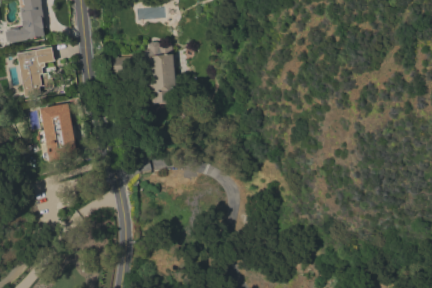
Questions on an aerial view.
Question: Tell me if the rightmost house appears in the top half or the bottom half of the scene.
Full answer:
You can find the rightmost house in the top half.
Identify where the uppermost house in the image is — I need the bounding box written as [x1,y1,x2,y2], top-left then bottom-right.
[4,0,44,44]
